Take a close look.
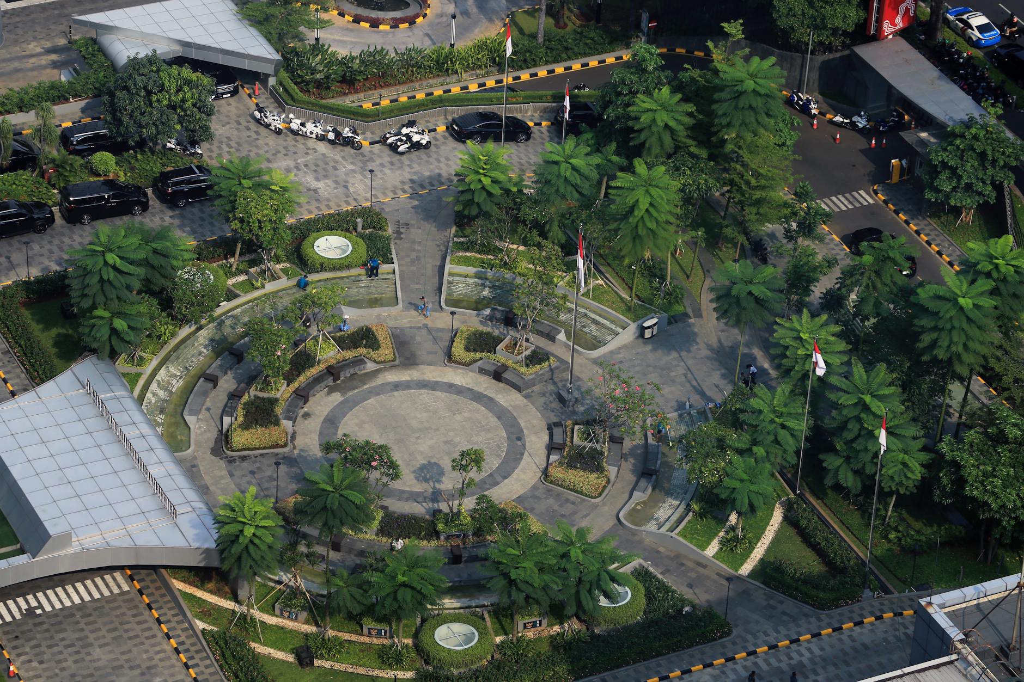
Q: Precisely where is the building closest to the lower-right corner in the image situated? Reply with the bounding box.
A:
[909,559,1024,682]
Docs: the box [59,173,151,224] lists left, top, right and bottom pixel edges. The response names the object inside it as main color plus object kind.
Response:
black car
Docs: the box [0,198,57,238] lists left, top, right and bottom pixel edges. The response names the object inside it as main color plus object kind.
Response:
black car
